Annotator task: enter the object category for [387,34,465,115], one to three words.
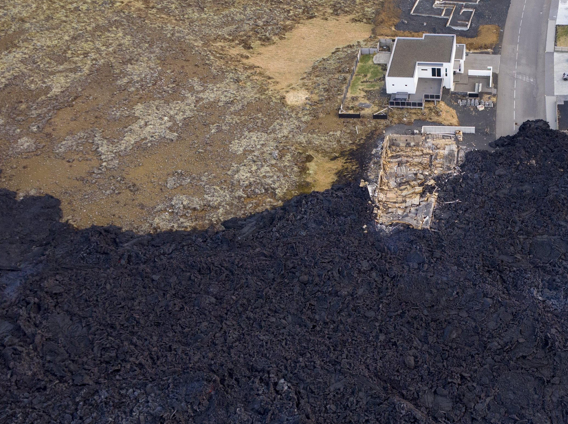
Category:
house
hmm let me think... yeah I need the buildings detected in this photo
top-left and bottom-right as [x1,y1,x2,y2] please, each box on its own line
[387,34,465,115]
[374,132,463,231]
